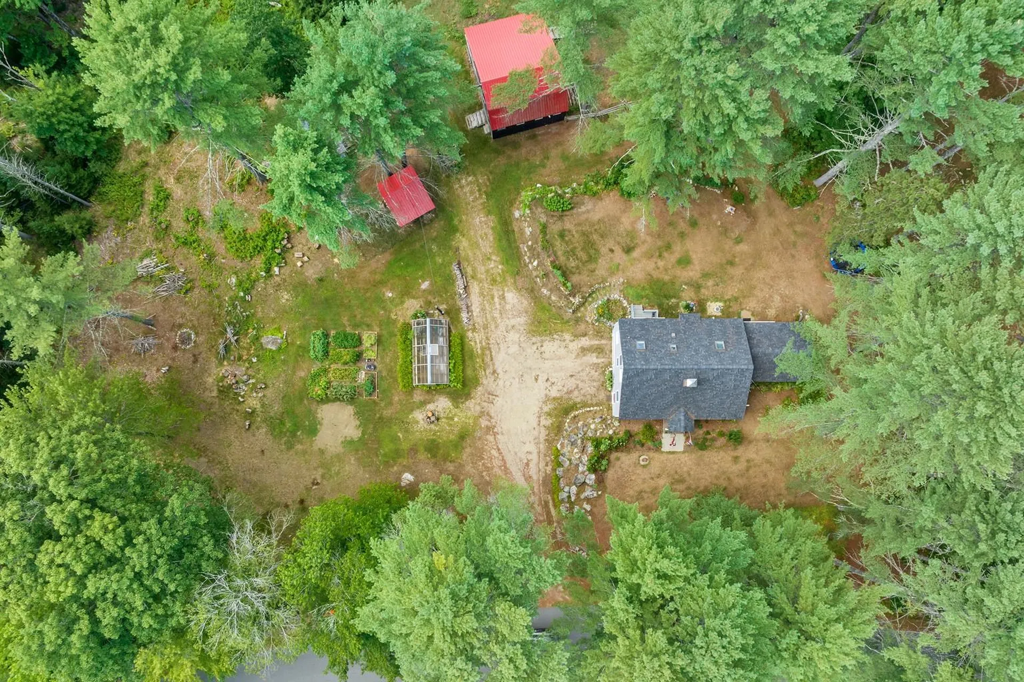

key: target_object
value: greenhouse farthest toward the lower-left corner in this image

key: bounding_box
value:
[412,317,451,386]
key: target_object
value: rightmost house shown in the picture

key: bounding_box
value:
[613,305,819,434]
